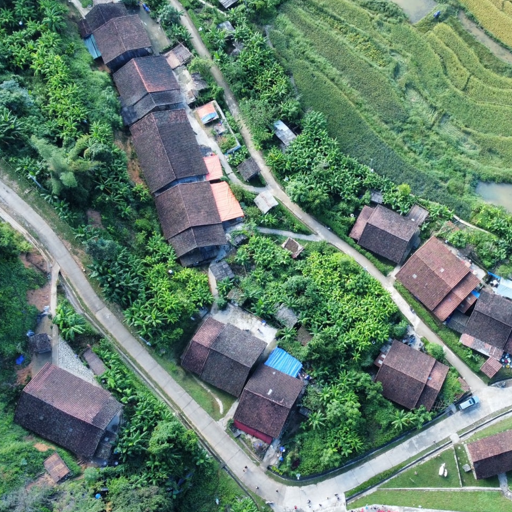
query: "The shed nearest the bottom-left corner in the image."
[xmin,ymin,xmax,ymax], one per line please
[45,454,70,482]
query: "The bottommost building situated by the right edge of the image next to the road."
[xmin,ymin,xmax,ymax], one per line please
[466,430,512,481]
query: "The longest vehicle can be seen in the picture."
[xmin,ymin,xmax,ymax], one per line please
[457,394,480,413]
